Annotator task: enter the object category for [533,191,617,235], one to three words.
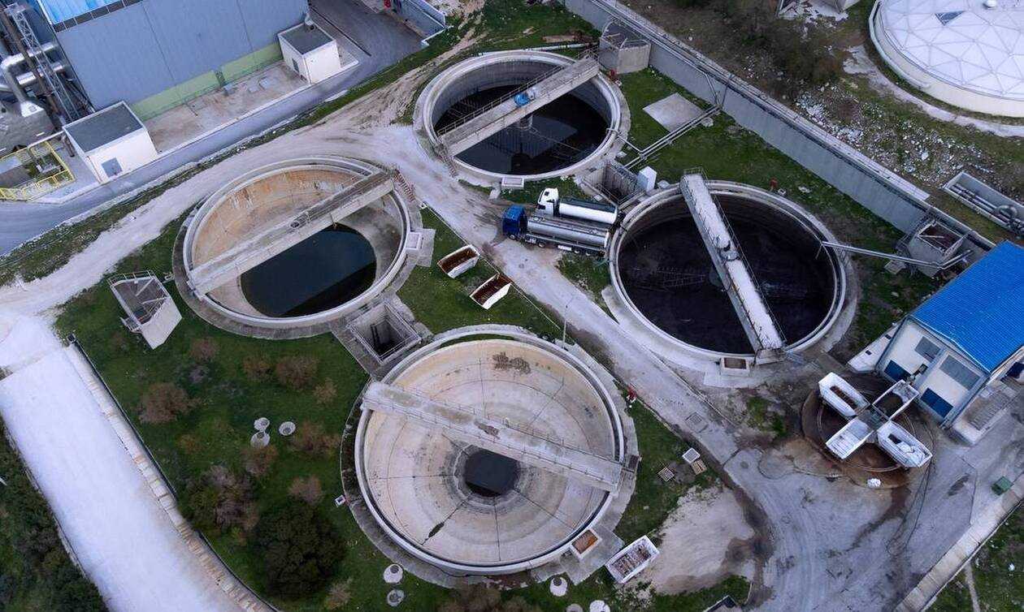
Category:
truck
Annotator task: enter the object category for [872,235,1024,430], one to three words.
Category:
building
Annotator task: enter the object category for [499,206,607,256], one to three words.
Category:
truck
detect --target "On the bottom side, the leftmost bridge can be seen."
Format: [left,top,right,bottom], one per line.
[356,379,631,495]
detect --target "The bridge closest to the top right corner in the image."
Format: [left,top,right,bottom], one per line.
[678,163,783,356]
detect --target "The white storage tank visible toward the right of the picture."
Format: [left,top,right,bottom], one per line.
[866,0,1024,120]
